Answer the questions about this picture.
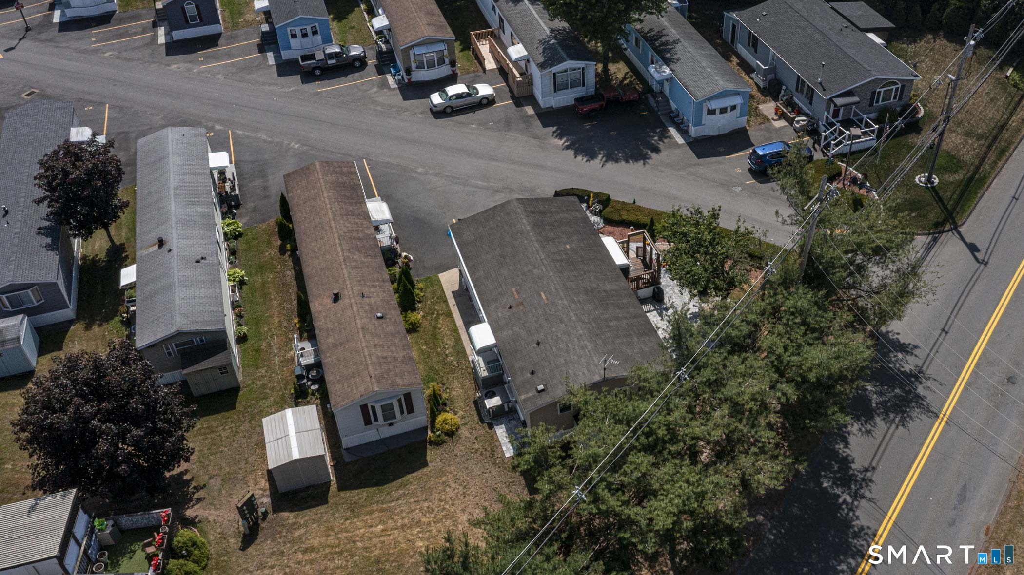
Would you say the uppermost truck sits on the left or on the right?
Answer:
left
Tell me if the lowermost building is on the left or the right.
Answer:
left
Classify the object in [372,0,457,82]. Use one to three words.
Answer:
house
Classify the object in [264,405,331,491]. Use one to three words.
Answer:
shed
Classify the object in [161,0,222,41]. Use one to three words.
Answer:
house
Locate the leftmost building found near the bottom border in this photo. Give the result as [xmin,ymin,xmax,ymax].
[0,485,88,575]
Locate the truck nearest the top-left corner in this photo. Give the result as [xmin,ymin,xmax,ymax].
[300,40,370,73]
